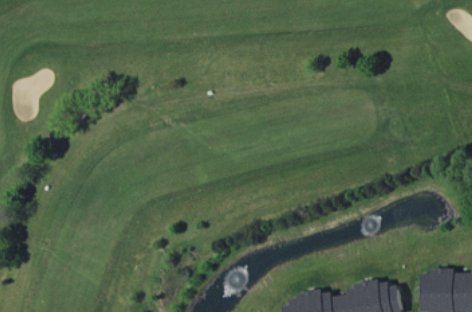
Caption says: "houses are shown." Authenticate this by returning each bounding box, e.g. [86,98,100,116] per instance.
[282,278,404,312]
[420,268,472,312]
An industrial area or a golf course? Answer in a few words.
golf course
